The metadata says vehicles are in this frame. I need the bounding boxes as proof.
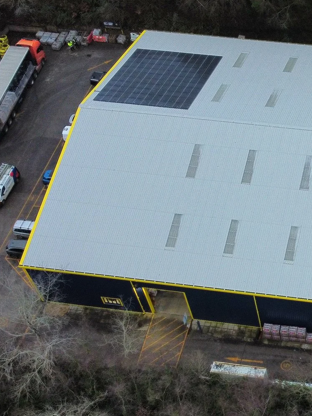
[11,223,34,245]
[40,171,54,191]
[7,242,26,263]
[90,71,110,87]
[0,165,20,209]
[60,125,72,145]
[0,37,50,138]
[68,116,76,126]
